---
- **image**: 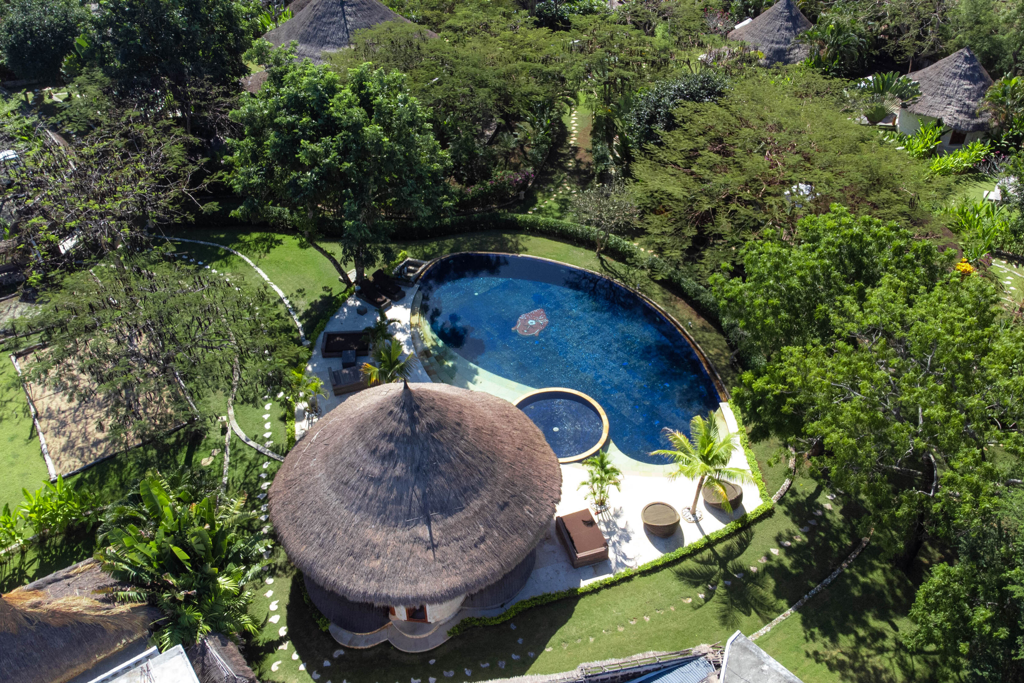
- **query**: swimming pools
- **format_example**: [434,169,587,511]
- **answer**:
[411,250,728,477]
[512,387,609,468]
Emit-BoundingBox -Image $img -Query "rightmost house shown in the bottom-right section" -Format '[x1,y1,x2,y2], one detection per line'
[718,628,802,683]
